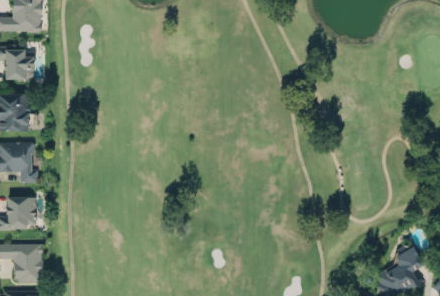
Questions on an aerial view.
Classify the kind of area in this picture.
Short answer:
golf course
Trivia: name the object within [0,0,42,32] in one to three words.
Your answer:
house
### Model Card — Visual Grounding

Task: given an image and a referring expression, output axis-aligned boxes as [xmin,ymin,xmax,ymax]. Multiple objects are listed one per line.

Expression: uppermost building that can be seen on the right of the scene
[386,244,431,279]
